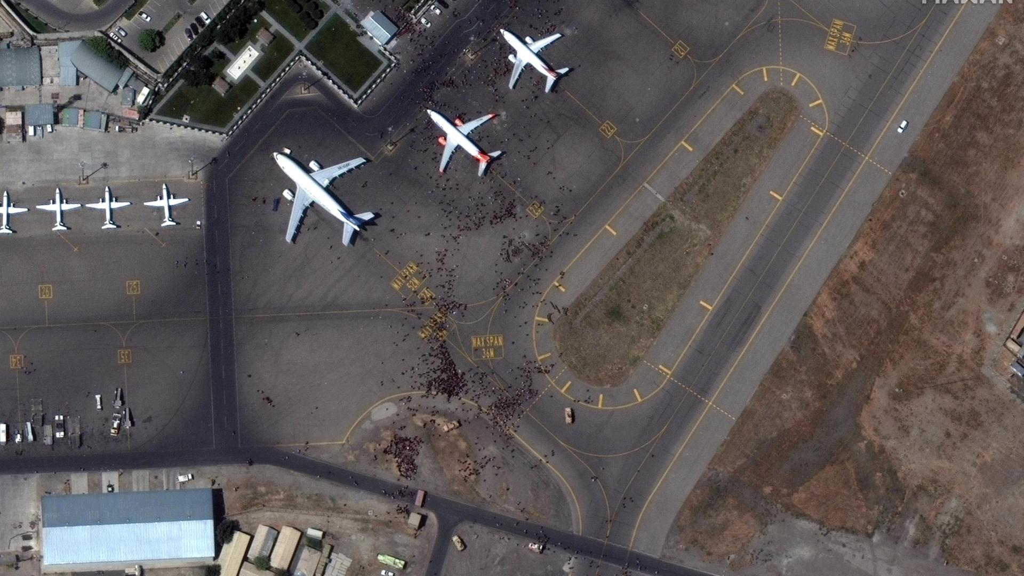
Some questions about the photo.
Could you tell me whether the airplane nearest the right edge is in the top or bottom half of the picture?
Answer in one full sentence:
The airplane nearest the right edge is in the top half of the image.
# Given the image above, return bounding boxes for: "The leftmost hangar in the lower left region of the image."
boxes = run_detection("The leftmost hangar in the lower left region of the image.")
[42,488,214,571]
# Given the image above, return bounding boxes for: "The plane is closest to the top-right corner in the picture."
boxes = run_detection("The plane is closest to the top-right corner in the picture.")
[500,29,569,91]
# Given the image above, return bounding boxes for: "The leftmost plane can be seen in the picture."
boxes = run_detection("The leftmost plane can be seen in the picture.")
[0,191,28,231]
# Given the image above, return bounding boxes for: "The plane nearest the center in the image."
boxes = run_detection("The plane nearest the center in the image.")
[427,110,502,174]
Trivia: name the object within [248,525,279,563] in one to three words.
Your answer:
shed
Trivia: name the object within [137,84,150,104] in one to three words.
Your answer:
vehicle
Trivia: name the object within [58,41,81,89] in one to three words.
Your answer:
building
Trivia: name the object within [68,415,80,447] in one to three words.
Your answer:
vehicle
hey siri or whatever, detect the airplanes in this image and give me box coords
[36,188,81,228]
[273,153,374,245]
[0,191,28,231]
[500,29,569,91]
[427,110,502,174]
[144,183,189,224]
[85,186,130,226]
